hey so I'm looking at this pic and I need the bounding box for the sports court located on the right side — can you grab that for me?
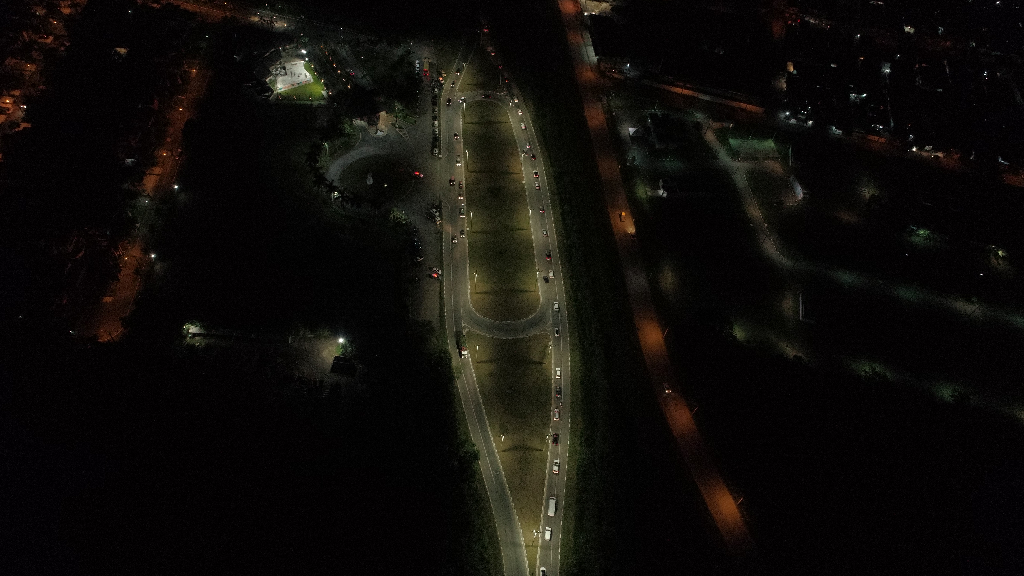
[729,138,779,160]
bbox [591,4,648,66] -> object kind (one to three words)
building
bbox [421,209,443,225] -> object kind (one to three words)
vehicle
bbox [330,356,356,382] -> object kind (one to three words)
shed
